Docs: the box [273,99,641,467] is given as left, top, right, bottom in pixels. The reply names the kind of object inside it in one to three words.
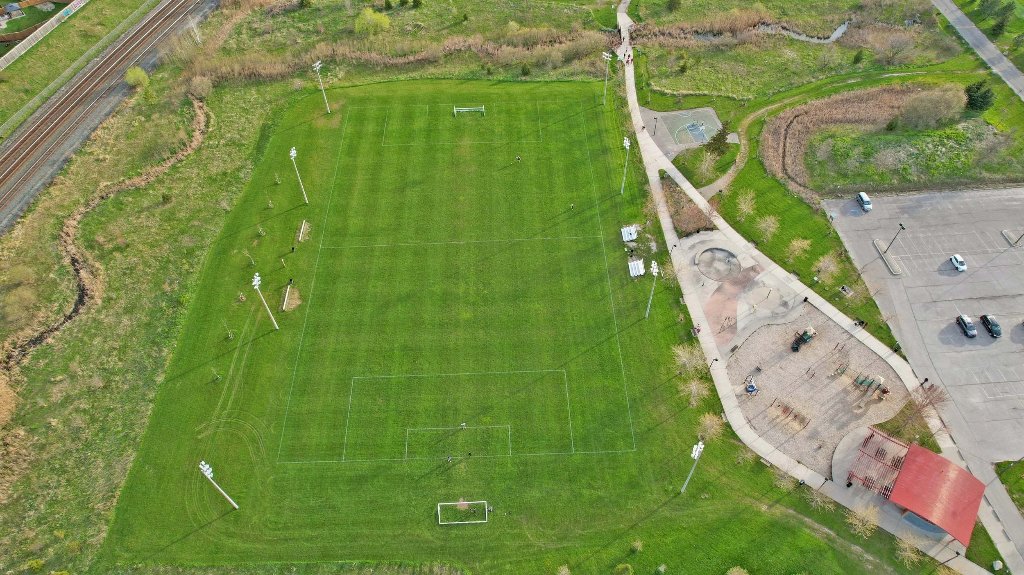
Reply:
soccer field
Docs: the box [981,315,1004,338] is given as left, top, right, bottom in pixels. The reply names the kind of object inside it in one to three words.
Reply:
car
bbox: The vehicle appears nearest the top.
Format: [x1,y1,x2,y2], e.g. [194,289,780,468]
[855,194,873,212]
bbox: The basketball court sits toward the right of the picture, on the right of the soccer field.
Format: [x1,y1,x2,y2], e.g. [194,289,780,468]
[659,109,727,144]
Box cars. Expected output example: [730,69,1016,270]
[855,194,873,212]
[950,255,969,272]
[981,315,1004,338]
[958,315,979,338]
